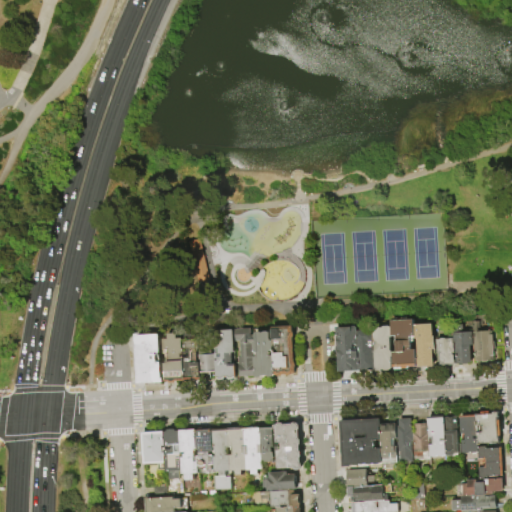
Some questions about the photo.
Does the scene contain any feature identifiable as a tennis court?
Yes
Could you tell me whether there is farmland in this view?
No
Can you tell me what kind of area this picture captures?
residential area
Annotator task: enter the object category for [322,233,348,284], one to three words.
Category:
tennis court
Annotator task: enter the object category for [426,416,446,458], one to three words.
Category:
house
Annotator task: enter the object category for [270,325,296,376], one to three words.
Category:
building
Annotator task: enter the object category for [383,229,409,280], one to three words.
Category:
tennis court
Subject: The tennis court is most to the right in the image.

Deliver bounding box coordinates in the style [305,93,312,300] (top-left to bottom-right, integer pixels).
[414,228,440,278]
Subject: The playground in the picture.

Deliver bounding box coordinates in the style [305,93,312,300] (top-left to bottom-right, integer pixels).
[212,204,312,304]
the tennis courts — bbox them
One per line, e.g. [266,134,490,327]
[383,229,409,280]
[322,233,348,284]
[353,231,379,282]
[414,228,440,278]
